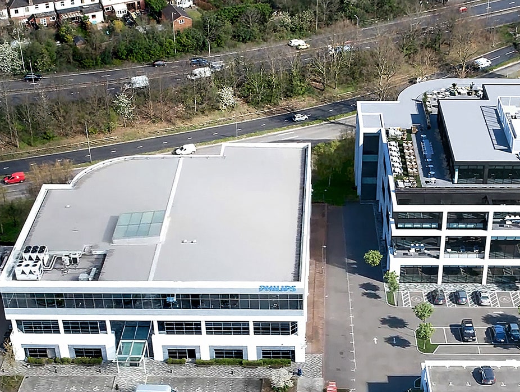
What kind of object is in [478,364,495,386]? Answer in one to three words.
car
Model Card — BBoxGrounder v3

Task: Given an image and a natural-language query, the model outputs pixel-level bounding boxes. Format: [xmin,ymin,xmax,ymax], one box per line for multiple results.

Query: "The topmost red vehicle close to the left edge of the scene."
[1,170,25,184]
